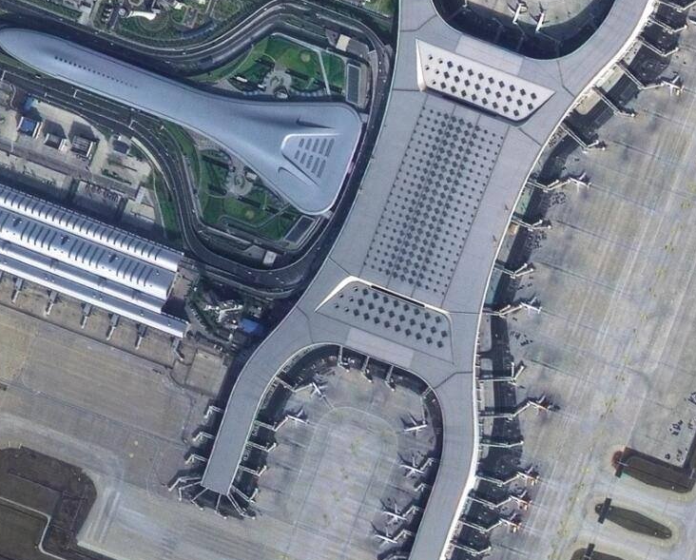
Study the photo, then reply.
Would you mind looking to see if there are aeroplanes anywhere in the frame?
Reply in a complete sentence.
Yes, an aeroplane appears in the view.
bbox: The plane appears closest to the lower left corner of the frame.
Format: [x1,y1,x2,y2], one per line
[287,410,309,431]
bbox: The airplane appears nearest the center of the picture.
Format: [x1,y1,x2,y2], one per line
[313,381,327,401]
